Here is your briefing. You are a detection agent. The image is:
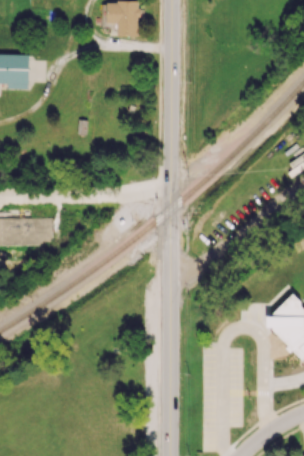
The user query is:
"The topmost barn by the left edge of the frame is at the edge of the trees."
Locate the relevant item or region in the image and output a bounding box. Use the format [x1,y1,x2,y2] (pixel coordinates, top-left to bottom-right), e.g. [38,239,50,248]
[0,56,29,96]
